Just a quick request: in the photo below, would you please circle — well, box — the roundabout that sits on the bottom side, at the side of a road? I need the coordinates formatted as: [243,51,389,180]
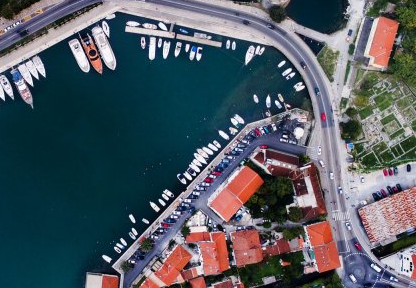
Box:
[337,252,377,288]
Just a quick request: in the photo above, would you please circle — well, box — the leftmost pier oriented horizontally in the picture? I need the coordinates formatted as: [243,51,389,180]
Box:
[125,26,174,39]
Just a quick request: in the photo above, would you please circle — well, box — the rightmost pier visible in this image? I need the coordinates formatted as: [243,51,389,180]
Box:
[175,34,222,48]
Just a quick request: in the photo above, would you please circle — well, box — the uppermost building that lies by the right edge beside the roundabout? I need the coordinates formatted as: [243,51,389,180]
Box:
[353,186,416,245]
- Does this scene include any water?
Yes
